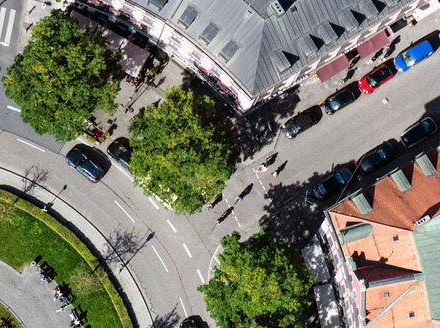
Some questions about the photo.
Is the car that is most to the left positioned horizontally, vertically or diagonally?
diagonally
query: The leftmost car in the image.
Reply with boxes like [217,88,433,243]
[67,147,108,183]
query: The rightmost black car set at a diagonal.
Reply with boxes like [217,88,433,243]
[398,115,440,149]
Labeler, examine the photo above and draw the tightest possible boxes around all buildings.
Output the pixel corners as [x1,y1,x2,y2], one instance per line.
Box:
[321,139,440,328]
[83,0,428,118]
